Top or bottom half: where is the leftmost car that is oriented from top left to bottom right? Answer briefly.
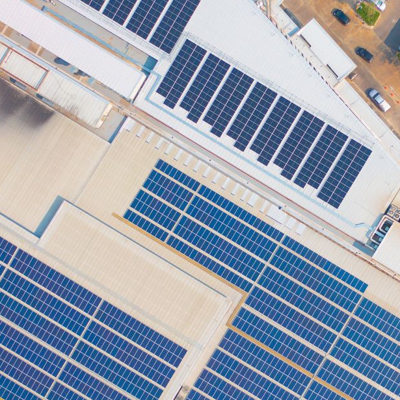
top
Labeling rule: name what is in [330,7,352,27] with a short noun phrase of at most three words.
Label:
car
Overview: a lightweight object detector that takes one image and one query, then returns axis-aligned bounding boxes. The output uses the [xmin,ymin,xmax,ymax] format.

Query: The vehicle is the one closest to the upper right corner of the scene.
[363,0,389,14]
